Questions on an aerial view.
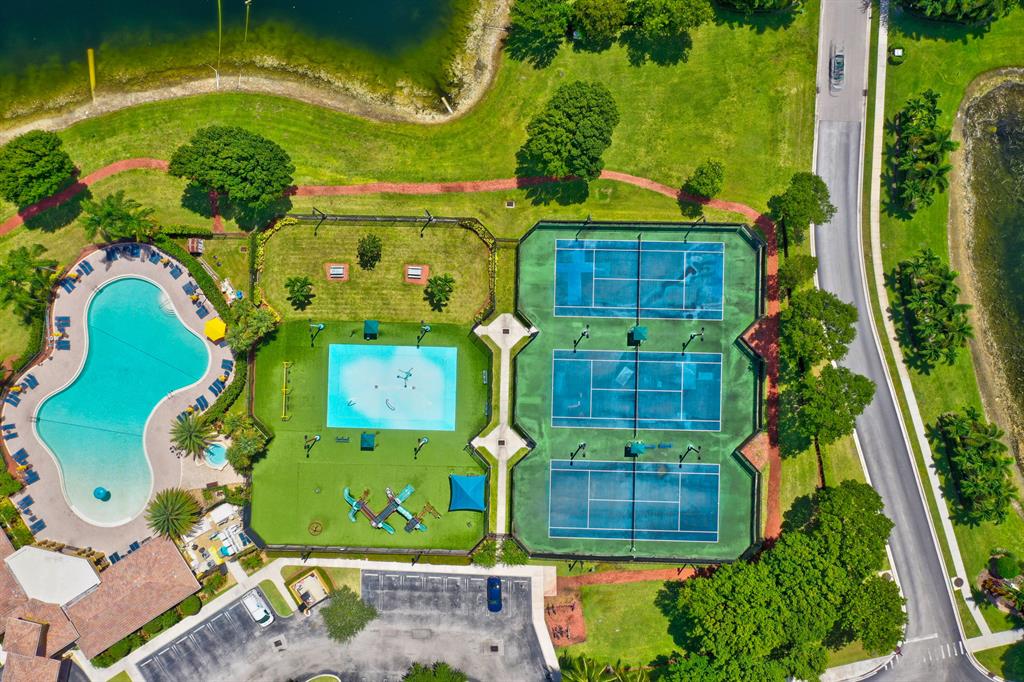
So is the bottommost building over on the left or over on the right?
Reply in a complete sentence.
You can find the bottommost building on the left side of the picture.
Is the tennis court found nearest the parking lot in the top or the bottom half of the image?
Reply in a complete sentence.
The bottom half of the photo is where the tennis court found nearest the parking lot is.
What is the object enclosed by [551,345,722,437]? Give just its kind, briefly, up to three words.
tennis court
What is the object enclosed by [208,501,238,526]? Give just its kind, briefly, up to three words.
shed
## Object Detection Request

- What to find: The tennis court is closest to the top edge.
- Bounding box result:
[554,233,725,325]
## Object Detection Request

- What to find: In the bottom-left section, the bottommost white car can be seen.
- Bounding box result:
[239,590,271,628]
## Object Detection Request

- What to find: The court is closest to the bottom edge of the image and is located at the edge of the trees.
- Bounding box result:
[549,455,720,549]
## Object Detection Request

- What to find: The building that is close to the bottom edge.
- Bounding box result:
[0,517,200,682]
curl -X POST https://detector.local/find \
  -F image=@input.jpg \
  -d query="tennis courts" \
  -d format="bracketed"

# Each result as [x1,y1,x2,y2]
[551,345,722,437]
[554,233,725,325]
[549,455,720,549]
